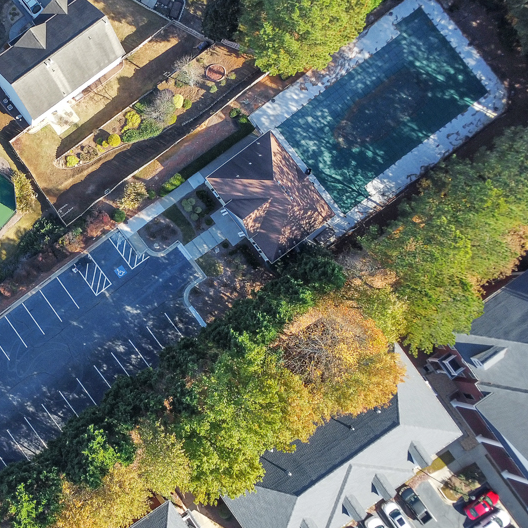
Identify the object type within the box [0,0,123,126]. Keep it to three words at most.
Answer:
house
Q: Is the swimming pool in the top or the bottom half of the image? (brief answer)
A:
top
